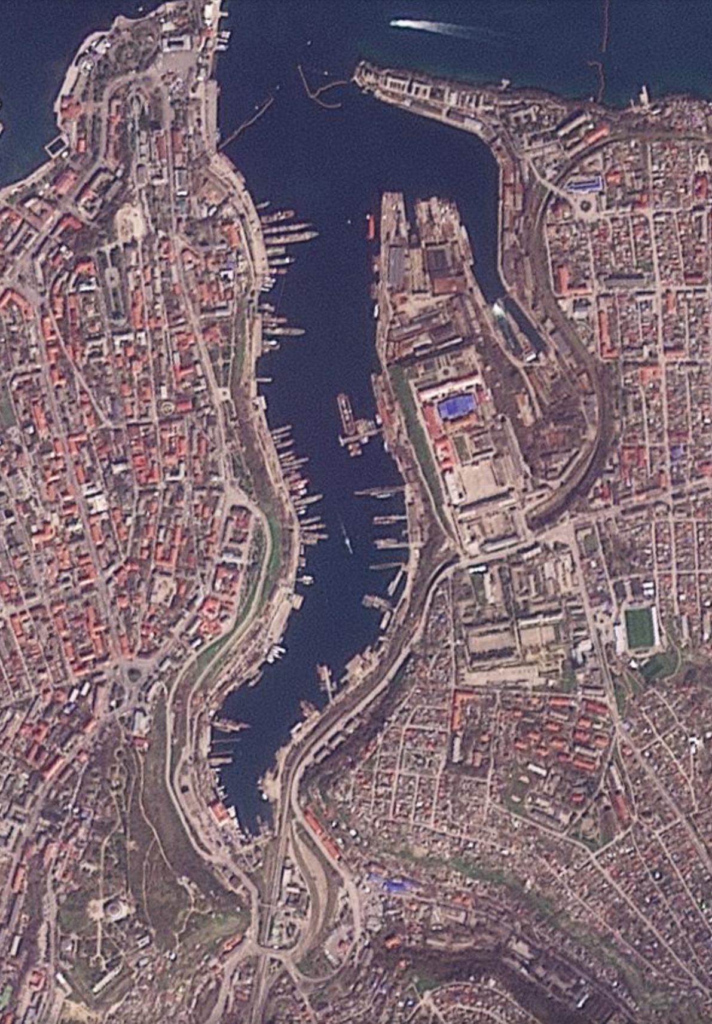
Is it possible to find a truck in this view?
No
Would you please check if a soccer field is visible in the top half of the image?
No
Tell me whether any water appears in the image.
Yes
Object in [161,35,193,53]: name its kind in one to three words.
building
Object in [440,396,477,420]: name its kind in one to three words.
building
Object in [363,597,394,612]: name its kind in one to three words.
ship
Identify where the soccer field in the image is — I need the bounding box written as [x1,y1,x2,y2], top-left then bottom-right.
[626,608,655,649]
